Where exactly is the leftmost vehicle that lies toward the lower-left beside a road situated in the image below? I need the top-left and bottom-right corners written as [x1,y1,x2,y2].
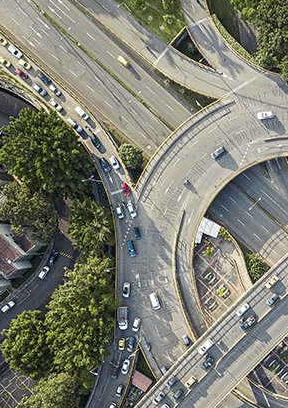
[1,300,16,313]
